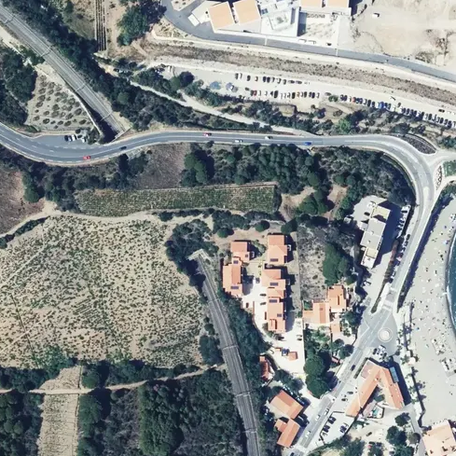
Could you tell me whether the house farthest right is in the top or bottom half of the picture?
bottom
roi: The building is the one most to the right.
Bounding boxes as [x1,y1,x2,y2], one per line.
[422,420,456,456]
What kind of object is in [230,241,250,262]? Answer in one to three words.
house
